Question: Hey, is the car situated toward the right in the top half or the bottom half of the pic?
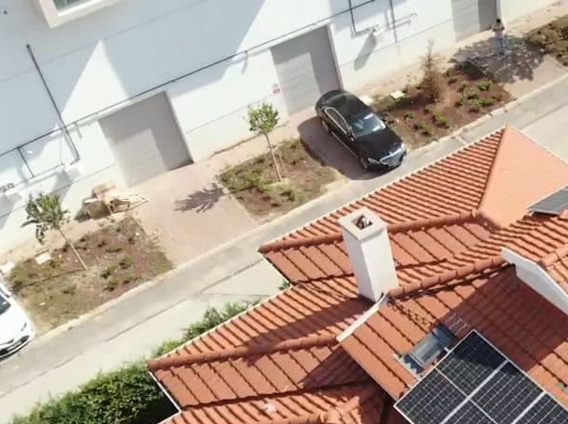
top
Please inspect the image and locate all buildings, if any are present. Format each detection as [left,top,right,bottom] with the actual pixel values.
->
[135,121,568,424]
[0,0,548,243]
